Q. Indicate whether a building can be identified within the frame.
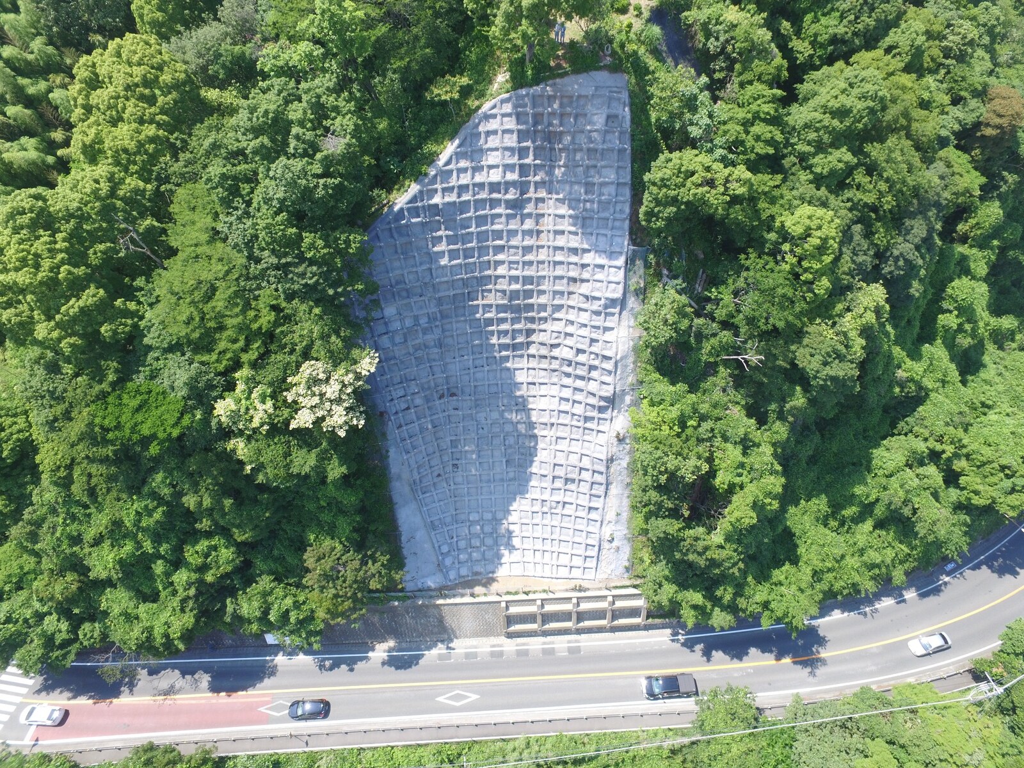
No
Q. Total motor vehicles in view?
four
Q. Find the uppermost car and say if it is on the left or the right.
right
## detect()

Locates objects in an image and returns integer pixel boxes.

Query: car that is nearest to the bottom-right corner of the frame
[906,631,954,657]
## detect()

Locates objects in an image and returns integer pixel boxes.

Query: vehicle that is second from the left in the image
[288,697,331,721]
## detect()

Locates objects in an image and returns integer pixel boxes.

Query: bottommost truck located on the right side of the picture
[641,674,697,698]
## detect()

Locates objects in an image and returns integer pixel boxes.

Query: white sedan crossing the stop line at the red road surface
[18,703,70,727]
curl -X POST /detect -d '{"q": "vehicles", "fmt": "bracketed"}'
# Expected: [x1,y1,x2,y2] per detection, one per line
[288,697,331,721]
[906,631,954,657]
[641,674,697,698]
[18,703,70,727]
